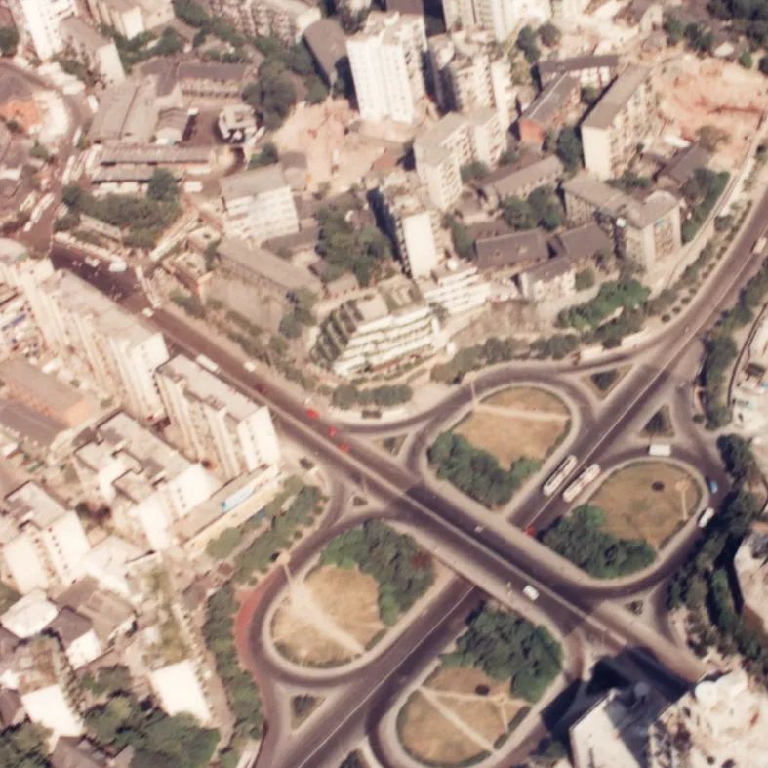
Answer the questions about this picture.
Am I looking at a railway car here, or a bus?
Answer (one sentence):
The image shows a bus.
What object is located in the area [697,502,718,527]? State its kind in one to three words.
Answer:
bus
